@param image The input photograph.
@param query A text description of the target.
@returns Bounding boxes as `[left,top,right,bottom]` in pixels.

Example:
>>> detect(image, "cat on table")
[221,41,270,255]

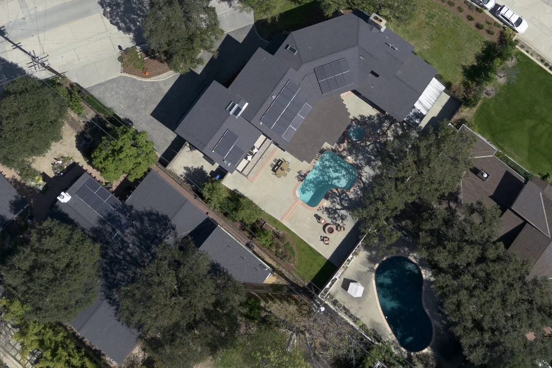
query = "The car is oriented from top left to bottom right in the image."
[494,2,530,34]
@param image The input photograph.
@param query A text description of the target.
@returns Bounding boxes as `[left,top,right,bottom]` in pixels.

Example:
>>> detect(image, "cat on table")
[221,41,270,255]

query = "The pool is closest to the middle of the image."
[292,147,361,210]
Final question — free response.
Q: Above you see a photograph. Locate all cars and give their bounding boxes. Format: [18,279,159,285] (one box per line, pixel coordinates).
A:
[472,0,498,12]
[494,2,530,34]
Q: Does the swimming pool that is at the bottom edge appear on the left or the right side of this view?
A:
right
